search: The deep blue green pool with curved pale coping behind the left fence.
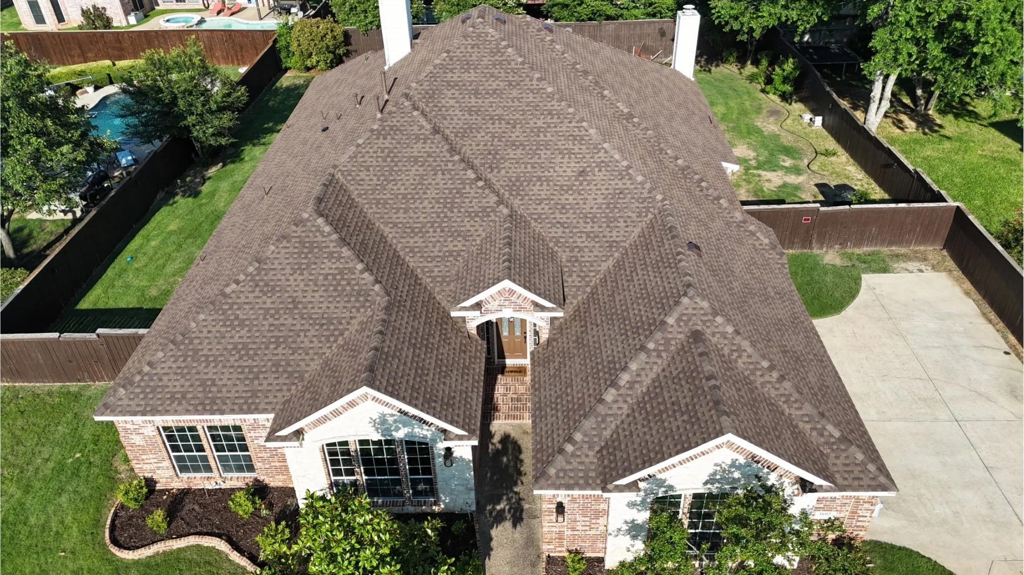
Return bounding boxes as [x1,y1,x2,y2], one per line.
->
[67,85,184,150]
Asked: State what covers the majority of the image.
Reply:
buildings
